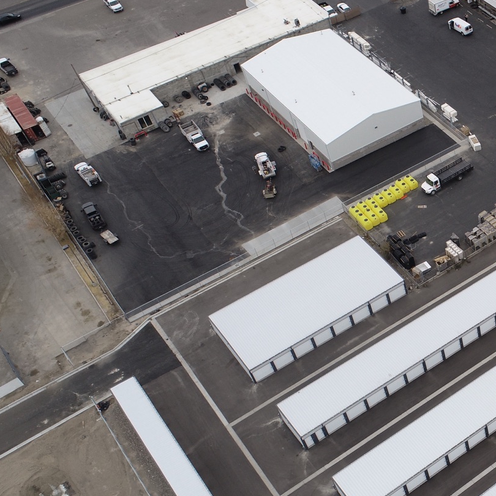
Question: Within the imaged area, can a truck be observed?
Yes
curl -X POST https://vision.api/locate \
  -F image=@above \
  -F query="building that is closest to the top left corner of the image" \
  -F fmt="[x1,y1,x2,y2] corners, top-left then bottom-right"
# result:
[78,0,333,137]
